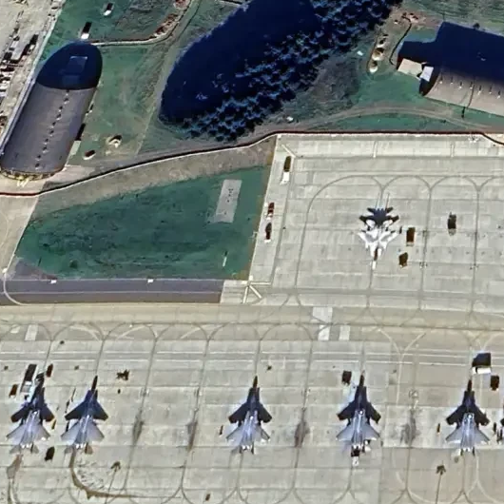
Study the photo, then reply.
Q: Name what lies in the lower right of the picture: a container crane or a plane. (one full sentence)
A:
What appears in the lower right of the picture is a plane.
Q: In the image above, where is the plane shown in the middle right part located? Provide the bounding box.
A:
[359,210,398,271]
